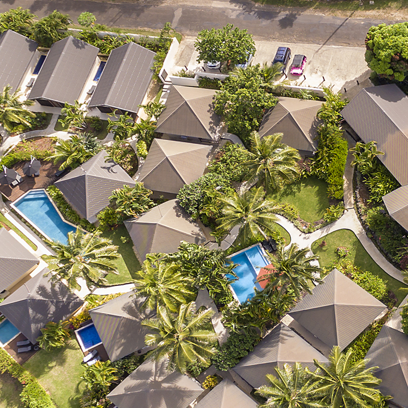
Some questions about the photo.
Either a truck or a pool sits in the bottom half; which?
pool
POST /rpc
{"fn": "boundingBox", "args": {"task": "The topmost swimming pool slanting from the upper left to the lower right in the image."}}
[7,187,89,260]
